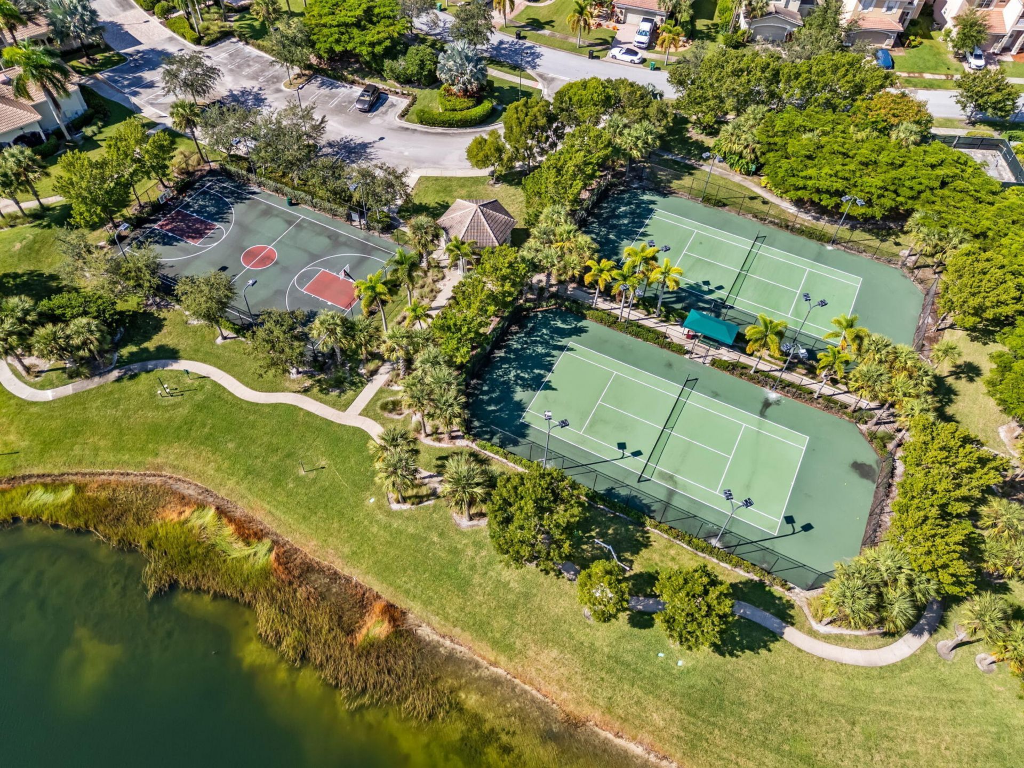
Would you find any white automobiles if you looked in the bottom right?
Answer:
No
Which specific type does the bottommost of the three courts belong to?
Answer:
tennis court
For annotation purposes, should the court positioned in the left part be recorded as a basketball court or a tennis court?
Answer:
basketball court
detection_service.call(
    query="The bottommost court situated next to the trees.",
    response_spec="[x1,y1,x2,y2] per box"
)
[456,307,882,591]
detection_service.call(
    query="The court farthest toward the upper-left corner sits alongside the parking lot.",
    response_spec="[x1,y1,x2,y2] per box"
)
[87,166,412,373]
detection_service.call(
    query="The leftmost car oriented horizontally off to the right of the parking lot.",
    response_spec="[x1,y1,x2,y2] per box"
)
[612,47,646,63]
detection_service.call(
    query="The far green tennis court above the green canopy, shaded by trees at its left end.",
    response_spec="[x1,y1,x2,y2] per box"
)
[563,183,924,383]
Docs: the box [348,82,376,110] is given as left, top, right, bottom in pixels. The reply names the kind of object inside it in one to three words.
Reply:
car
